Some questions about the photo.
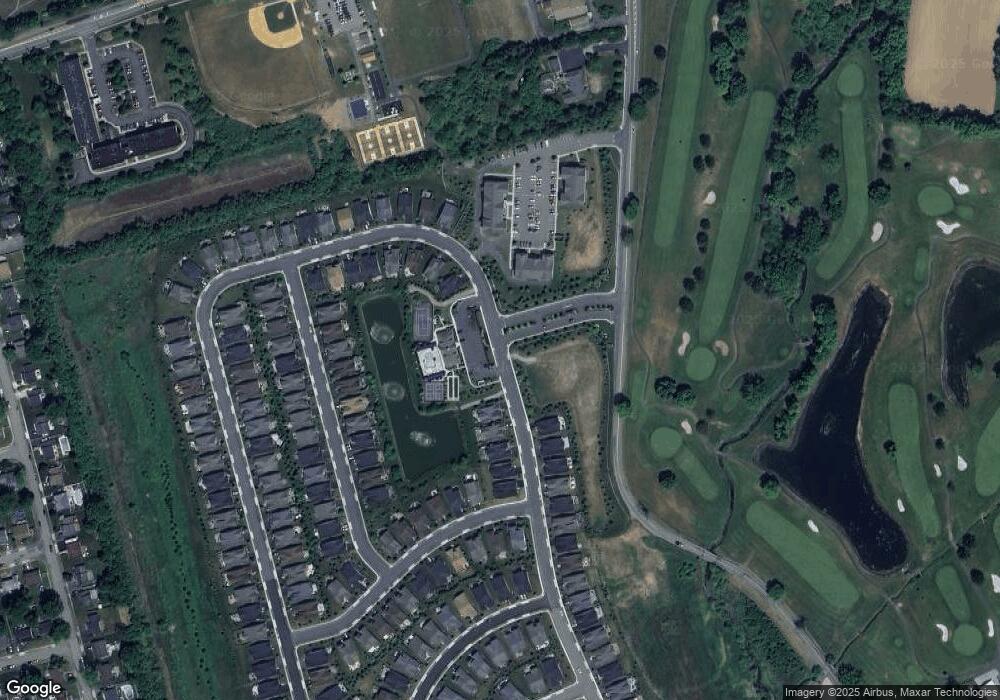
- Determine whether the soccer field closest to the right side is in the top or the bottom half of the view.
top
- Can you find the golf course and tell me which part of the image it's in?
right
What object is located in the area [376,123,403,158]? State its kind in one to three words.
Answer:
basketball court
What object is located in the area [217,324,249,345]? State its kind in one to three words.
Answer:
house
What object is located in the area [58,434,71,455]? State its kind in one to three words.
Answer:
swimming pool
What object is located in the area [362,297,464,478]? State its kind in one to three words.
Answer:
pond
